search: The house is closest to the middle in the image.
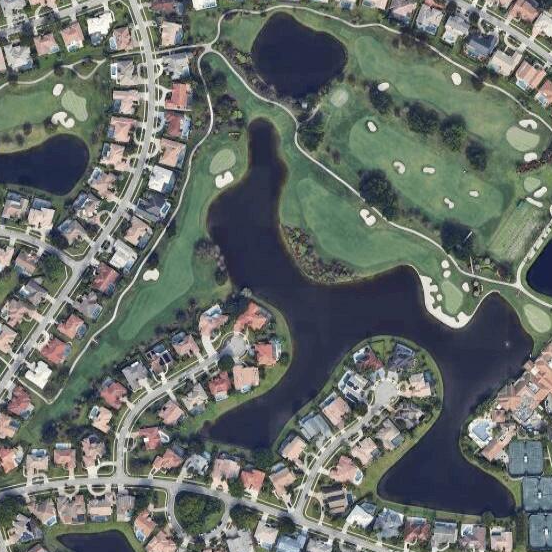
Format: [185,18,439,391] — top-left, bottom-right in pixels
[239,305,268,331]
